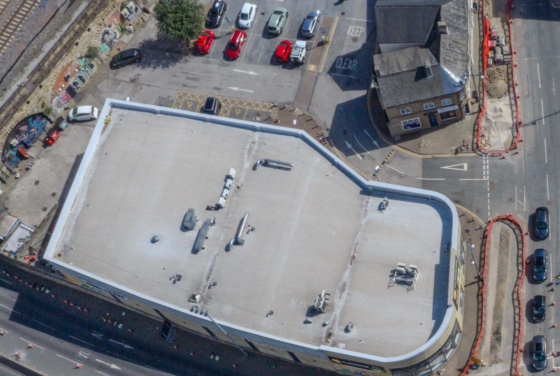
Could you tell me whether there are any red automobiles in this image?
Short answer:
Yes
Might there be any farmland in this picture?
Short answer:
No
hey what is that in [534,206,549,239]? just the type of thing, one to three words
car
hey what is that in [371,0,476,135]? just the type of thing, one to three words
building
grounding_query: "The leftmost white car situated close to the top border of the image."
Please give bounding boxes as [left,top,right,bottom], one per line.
[238,1,257,28]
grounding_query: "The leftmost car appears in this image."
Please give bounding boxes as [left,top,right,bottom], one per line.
[68,104,100,122]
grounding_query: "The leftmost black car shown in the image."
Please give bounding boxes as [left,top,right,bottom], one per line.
[109,47,143,70]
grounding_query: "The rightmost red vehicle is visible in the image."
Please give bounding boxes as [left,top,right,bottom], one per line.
[274,37,293,63]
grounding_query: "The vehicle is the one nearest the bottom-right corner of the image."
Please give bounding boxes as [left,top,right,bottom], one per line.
[531,334,548,371]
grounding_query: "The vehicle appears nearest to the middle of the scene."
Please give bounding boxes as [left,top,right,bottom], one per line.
[203,95,221,115]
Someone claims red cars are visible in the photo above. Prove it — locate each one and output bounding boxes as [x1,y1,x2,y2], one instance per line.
[225,28,247,60]
[196,29,216,54]
[274,37,293,63]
